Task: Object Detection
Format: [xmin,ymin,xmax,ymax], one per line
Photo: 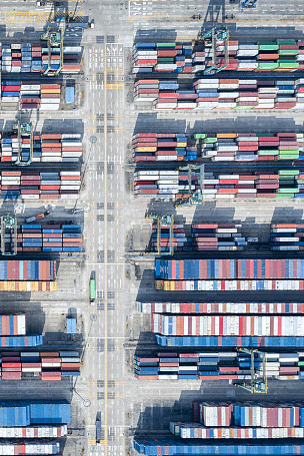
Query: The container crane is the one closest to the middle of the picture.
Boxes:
[142,212,174,258]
